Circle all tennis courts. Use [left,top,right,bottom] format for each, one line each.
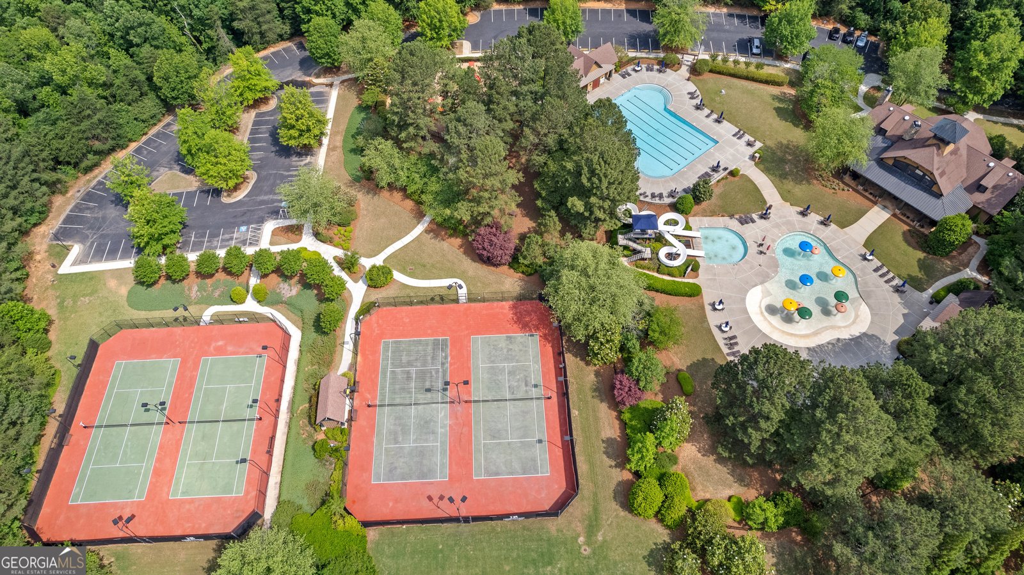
[147,323,290,538]
[33,326,199,542]
[345,304,461,522]
[460,300,577,519]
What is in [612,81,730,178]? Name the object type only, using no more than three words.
swimming pool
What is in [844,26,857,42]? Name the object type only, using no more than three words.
vehicle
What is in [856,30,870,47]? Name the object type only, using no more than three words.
car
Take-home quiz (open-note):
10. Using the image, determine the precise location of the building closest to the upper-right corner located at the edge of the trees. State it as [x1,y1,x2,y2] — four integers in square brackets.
[830,87,1024,235]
